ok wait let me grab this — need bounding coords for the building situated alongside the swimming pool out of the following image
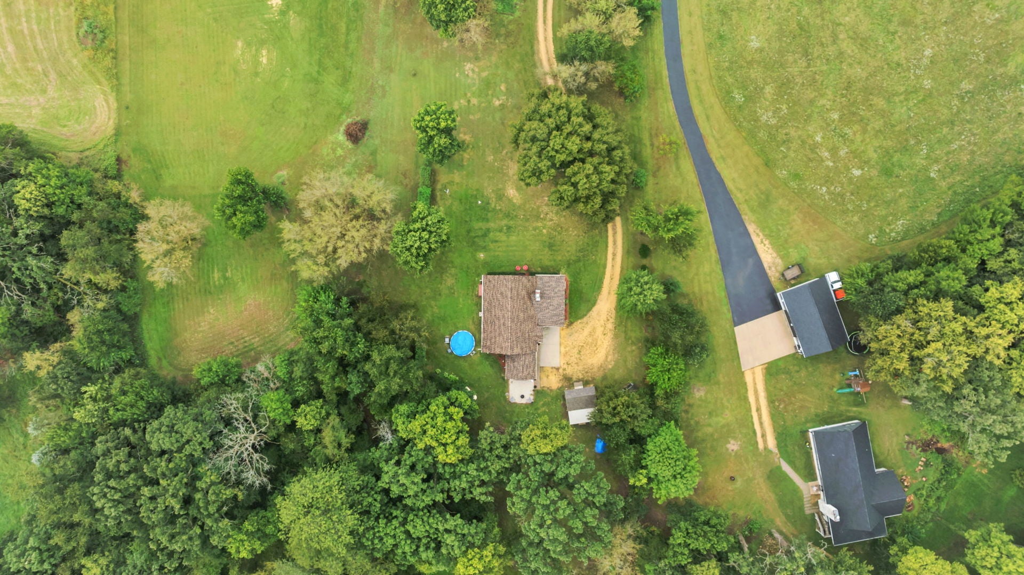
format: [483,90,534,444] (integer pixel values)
[481,276,566,380]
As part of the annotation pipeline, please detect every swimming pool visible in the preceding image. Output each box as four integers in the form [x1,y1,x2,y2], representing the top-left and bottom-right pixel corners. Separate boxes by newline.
[448,330,475,356]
